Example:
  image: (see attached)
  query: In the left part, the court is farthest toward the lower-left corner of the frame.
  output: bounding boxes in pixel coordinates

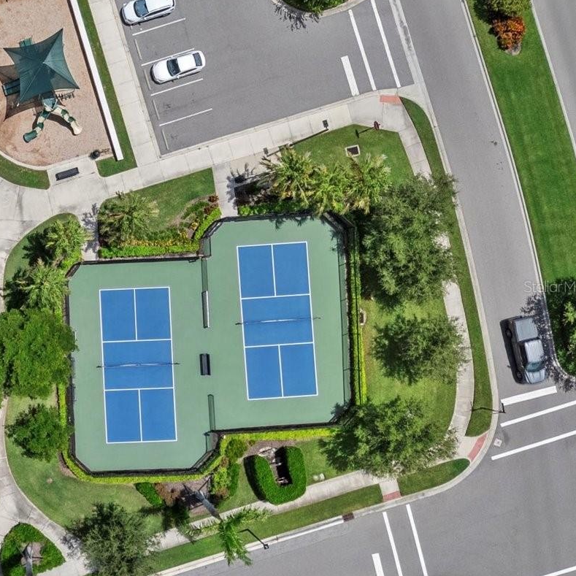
[70,259,219,472]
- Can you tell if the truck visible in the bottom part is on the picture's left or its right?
right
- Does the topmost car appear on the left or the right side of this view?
left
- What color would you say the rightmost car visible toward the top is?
white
